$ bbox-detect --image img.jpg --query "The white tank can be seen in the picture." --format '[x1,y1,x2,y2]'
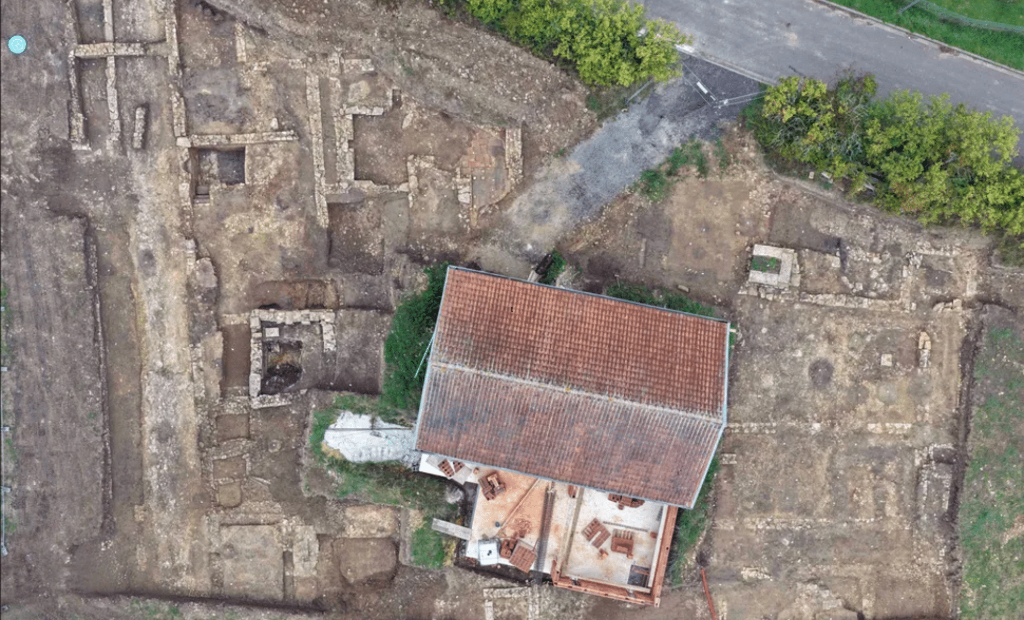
[478,540,500,573]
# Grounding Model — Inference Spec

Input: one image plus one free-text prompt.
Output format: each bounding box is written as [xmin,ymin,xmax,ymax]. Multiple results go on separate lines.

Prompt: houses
[412,263,732,512]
